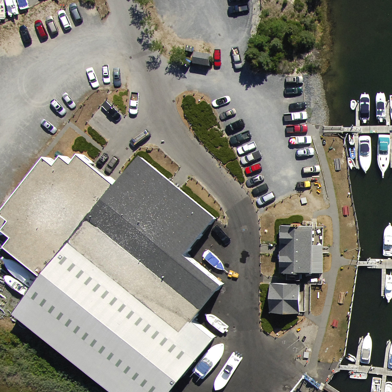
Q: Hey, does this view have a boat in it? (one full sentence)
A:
Yes, the image includes a boat.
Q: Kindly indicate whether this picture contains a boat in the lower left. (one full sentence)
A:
Yes, a boat is visible in the lower left.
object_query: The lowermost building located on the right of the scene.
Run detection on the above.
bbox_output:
[268,283,302,315]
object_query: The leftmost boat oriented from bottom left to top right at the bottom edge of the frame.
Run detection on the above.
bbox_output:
[193,344,223,379]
